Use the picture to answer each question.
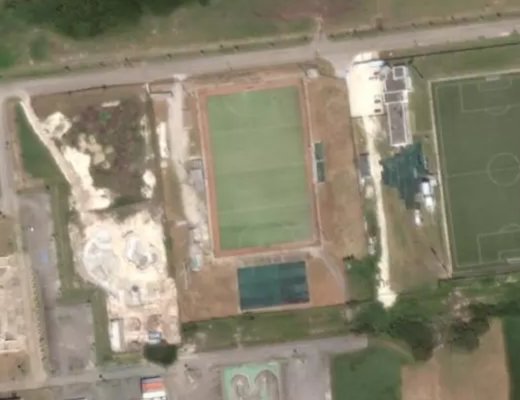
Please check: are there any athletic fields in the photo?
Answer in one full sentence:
Yes, the picture does show an athletic field.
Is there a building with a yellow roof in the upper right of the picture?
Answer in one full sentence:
No, no building with a yellow roof appears in the upper right of the picture.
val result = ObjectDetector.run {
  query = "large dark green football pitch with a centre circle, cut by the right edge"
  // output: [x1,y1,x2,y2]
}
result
[431,66,520,275]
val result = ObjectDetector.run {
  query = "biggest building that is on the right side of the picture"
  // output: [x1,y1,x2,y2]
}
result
[385,66,413,146]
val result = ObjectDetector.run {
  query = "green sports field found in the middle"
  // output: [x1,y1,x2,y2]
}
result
[196,77,320,257]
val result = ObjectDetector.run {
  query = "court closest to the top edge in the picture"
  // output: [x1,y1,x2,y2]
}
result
[236,260,312,313]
